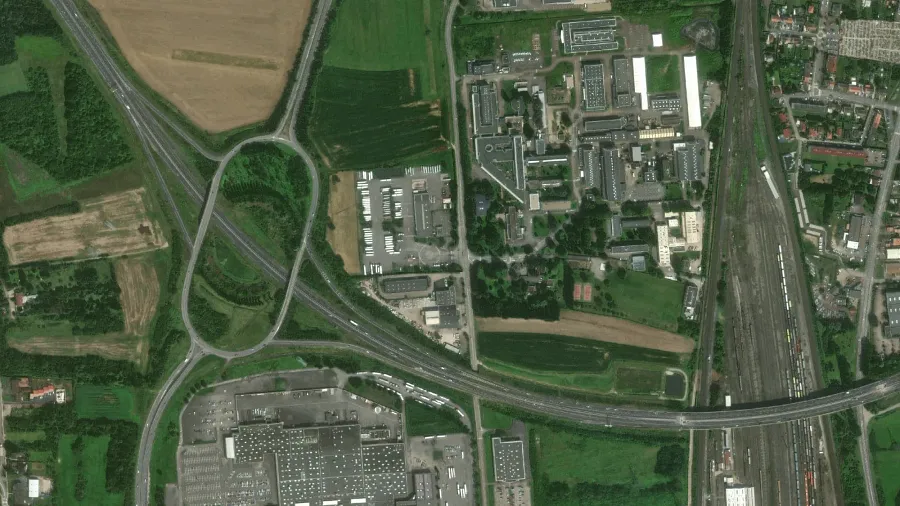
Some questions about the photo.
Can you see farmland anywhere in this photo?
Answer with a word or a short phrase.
Yes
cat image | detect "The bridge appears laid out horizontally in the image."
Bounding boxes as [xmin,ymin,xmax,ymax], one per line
[690,383,879,429]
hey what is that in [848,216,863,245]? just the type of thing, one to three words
house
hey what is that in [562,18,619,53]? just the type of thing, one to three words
building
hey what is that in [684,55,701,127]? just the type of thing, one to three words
building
